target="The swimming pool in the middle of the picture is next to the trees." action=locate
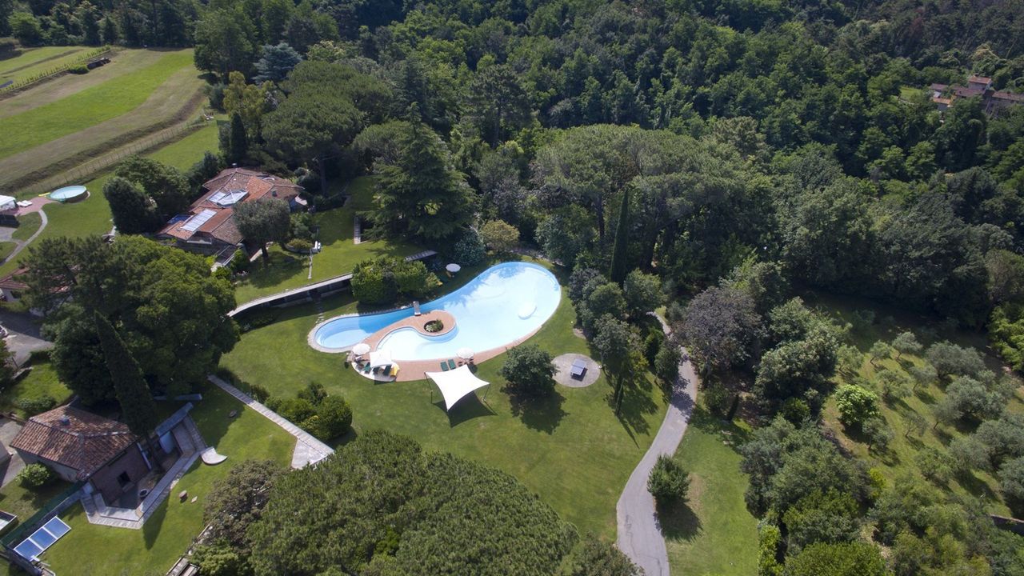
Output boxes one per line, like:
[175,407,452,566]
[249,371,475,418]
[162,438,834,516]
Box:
[307,261,563,362]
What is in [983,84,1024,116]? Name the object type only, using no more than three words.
house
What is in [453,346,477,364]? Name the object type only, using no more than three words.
umbrella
